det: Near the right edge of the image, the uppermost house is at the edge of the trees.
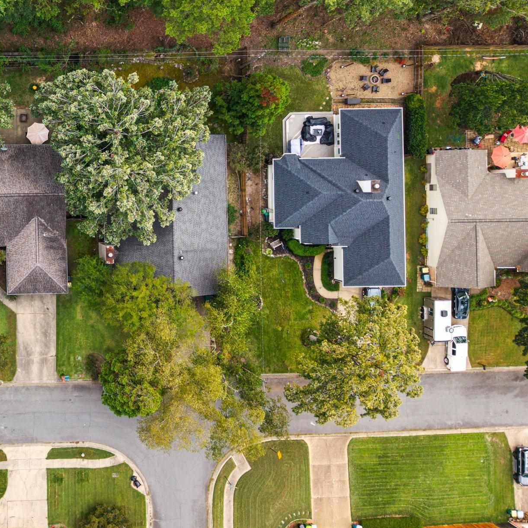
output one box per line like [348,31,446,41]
[427,149,528,287]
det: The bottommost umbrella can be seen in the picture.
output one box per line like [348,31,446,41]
[488,146,512,167]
